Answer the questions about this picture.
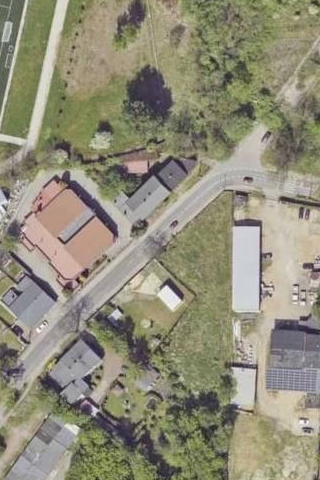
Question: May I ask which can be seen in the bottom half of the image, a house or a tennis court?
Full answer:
Visible in the bottom half of the image is a house.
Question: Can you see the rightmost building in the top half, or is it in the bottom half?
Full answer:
It is in the bottom half that the rightmost building appears.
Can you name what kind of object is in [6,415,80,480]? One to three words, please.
building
